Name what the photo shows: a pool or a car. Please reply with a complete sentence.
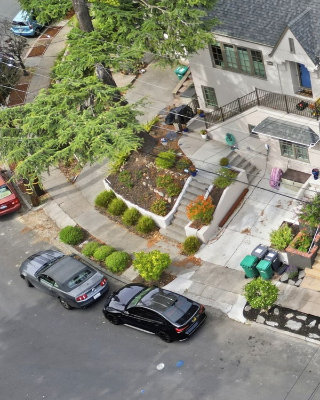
The image shows a car.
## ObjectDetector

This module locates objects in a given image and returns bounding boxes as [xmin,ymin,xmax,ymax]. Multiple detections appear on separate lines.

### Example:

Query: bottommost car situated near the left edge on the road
[16,249,109,310]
